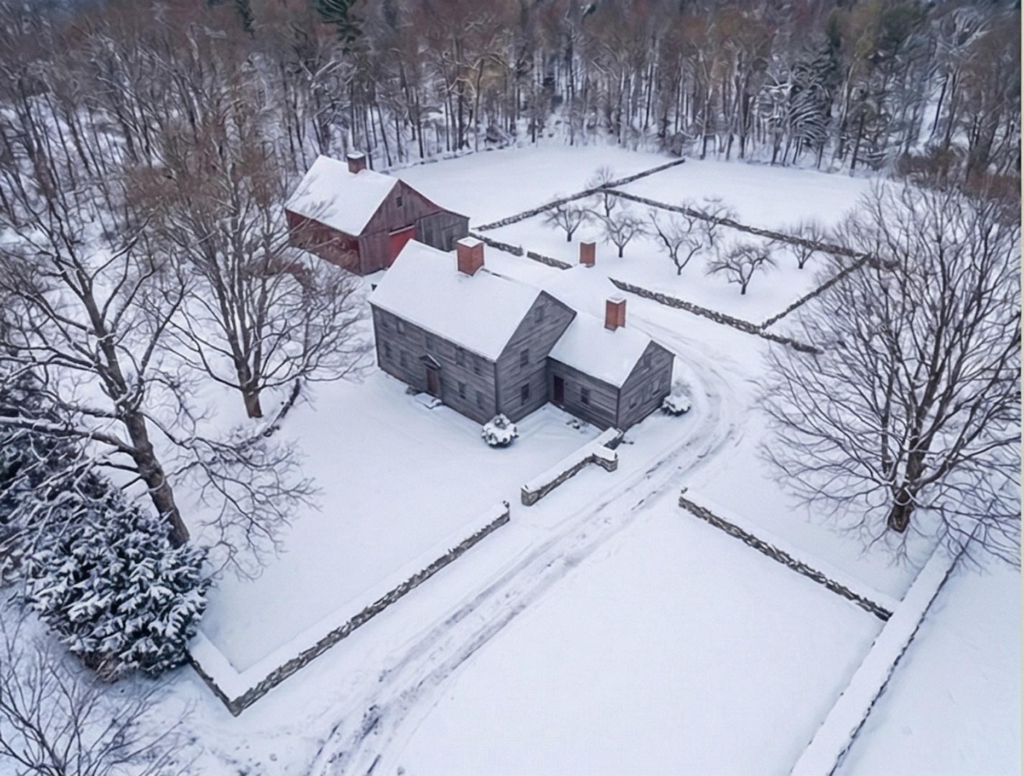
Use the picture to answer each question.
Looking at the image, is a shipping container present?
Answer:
No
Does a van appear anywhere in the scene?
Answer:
No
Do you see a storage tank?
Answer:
No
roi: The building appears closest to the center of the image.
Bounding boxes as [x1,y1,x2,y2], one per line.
[369,237,677,427]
